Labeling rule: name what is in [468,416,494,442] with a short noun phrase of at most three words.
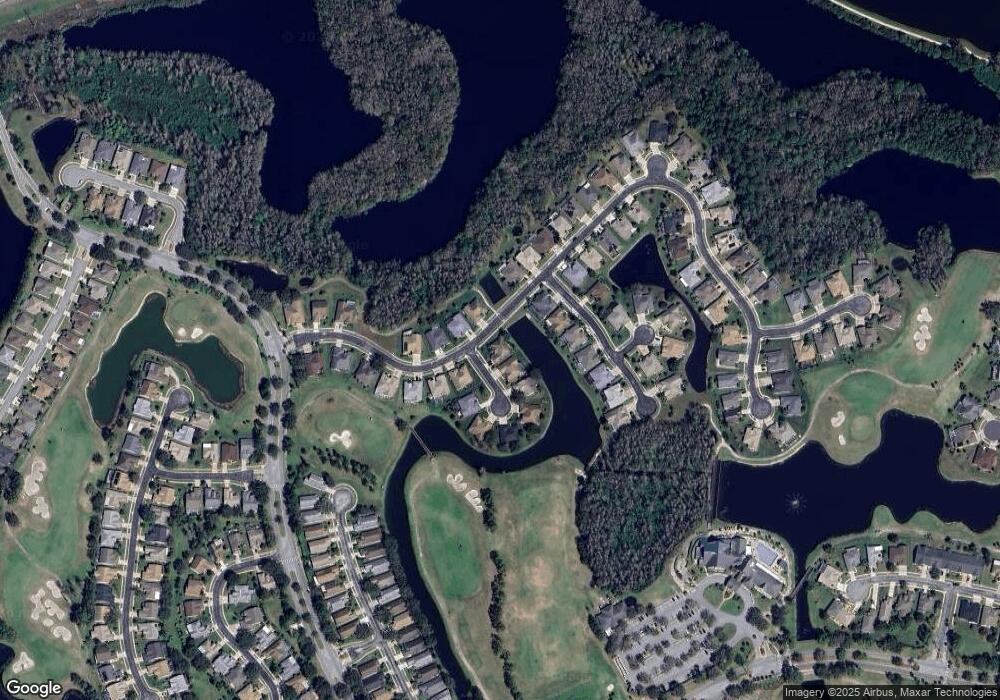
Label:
house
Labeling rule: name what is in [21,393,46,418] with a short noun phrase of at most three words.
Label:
house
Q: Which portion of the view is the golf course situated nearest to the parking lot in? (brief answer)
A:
bottom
